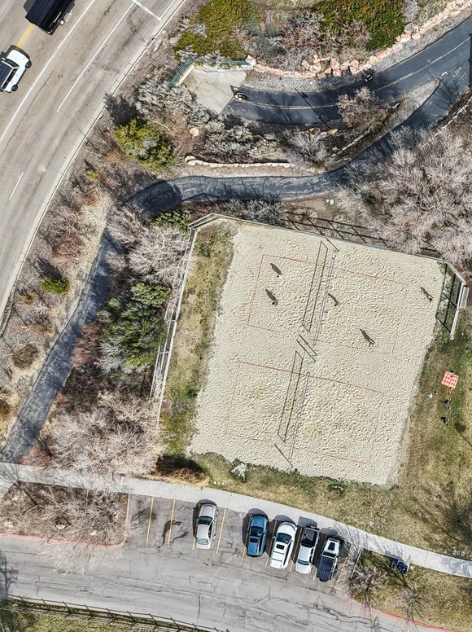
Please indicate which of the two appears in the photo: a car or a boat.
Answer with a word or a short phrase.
car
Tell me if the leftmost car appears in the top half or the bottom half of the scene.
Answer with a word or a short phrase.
top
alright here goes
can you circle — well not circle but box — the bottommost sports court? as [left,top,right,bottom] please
[189,336,419,485]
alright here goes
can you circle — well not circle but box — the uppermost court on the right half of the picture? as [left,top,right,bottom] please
[212,227,446,384]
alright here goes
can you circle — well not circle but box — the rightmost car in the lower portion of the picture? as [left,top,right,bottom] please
[311,538,342,588]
